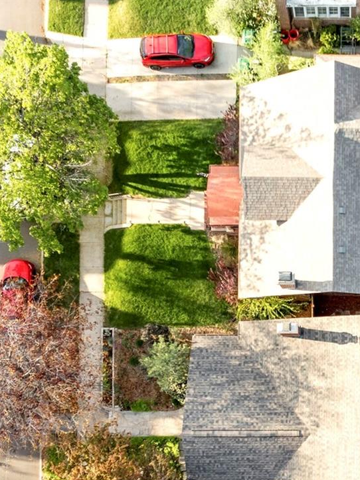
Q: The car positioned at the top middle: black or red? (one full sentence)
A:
From above, the car positioned at the top middle appears red.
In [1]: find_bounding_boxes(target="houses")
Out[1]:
[206,57,360,301]
[182,313,360,480]
[260,0,360,34]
